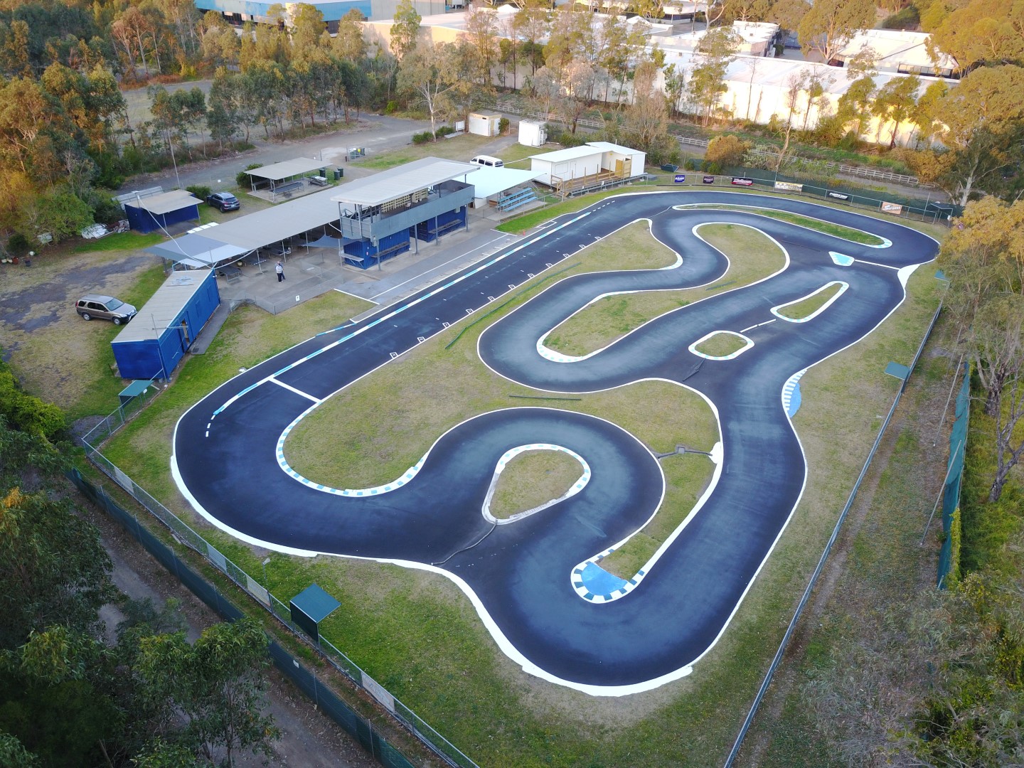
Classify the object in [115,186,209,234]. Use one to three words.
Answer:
shed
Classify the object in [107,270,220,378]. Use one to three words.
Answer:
building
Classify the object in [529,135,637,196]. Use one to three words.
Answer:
building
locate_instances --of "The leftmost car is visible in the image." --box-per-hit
[72,291,139,326]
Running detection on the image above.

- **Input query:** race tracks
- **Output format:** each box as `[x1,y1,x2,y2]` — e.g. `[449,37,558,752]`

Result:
[175,191,940,685]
